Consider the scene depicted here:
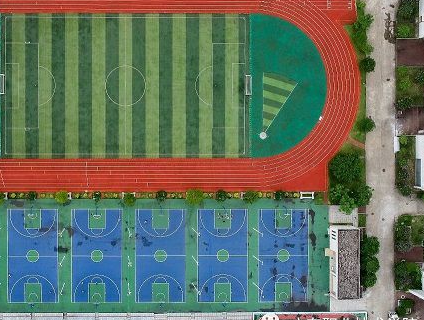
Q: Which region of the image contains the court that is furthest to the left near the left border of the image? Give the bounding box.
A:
[7,209,58,303]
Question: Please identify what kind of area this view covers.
sports ground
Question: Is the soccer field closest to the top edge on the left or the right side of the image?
left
